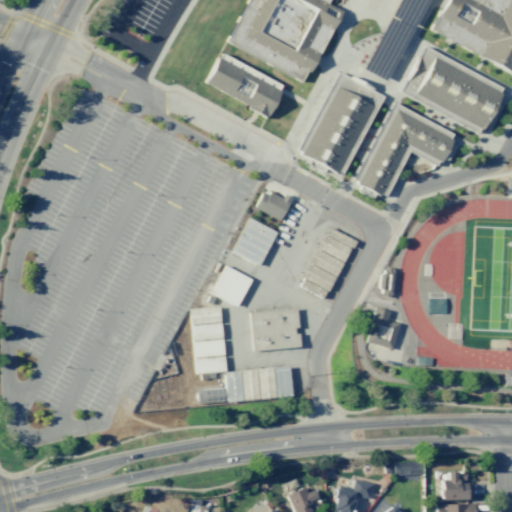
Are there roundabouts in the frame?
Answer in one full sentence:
No, I can't see a single roundabout in this photo.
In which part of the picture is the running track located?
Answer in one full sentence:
The running track sits in the right section of the image.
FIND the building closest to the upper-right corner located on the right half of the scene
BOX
[429,0,512,75]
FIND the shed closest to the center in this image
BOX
[230,218,278,266]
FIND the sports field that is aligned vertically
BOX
[466,220,512,350]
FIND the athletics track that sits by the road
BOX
[395,194,512,375]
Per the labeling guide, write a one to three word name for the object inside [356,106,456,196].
building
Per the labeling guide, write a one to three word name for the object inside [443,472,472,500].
house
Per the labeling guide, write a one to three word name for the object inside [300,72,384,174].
building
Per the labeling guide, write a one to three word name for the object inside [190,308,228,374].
barn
